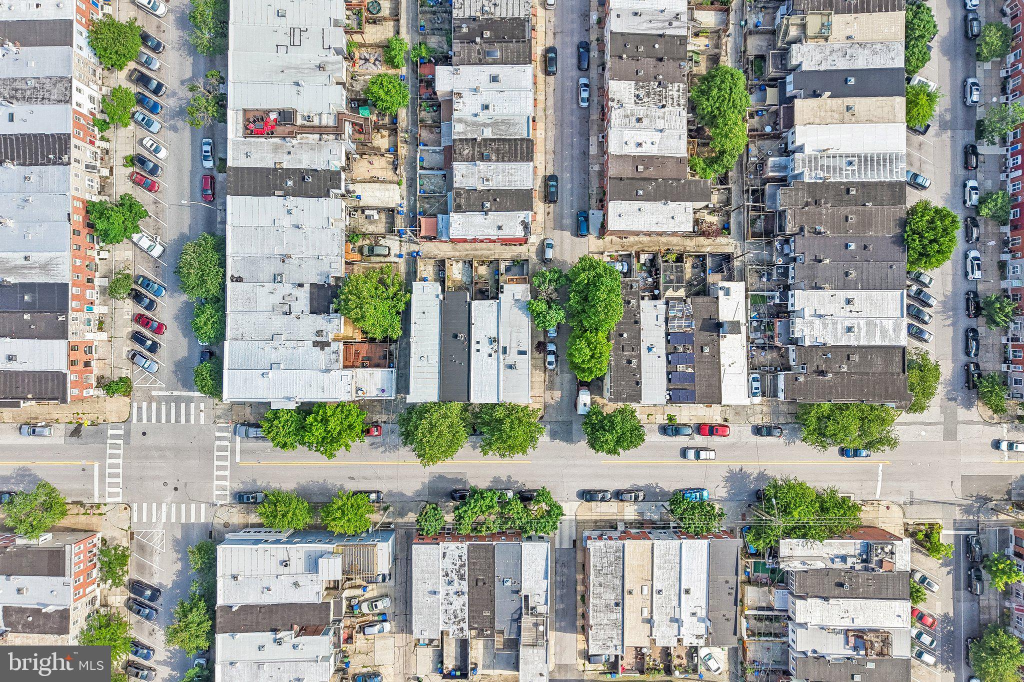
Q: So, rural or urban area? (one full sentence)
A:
The area is urban.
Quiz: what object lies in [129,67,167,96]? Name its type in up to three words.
truck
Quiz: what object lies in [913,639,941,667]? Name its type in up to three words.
van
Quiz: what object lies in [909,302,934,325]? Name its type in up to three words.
car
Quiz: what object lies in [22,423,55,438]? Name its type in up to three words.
vehicle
